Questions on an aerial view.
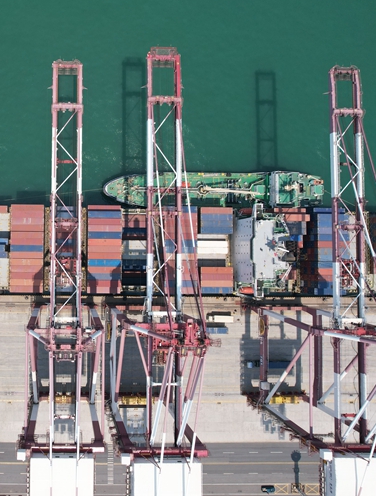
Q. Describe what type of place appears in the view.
port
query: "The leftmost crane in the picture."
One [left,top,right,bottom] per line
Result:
[16,58,113,496]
